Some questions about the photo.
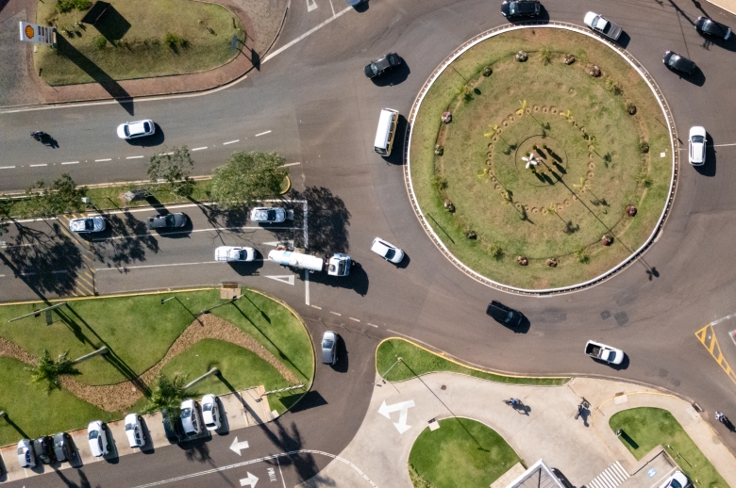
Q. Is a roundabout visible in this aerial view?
Yes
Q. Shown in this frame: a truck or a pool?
truck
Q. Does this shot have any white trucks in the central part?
Yes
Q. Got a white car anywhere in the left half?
Yes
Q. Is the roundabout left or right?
right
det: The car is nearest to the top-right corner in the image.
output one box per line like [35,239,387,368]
[693,14,736,44]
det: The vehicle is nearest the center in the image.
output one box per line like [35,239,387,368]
[368,236,406,265]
